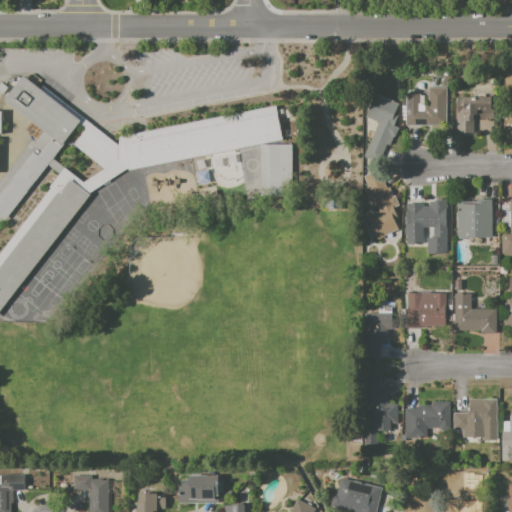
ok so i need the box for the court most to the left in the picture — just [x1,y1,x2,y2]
[0,158,195,321]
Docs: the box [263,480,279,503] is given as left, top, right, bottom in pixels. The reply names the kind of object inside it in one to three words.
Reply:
swimming pool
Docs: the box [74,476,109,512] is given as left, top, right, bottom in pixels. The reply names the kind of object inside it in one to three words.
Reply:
house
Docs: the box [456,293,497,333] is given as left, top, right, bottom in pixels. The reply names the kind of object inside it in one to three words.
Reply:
house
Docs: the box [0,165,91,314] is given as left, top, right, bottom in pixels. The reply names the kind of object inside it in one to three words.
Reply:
building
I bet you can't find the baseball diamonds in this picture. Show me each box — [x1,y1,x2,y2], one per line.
[127,232,208,308]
